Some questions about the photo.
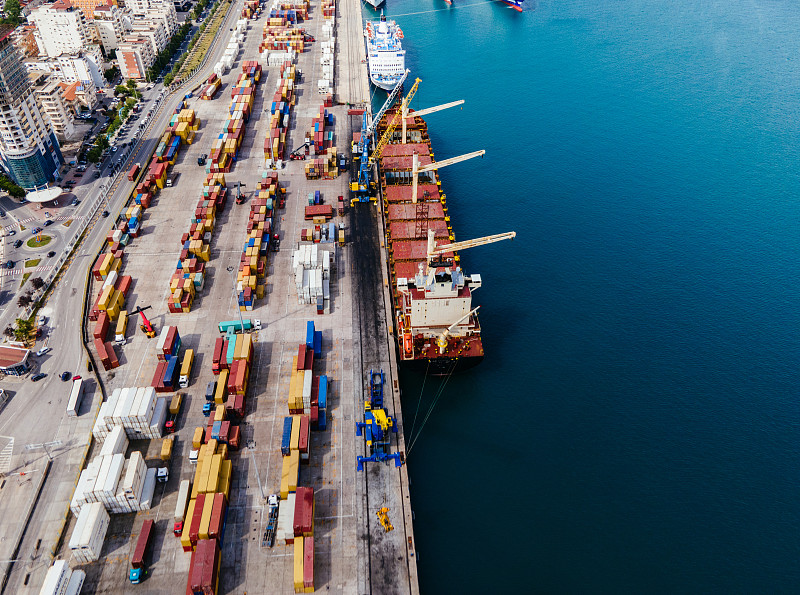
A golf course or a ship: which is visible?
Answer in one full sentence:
It is a ship that can be seen here.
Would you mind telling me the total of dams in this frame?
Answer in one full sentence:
I count no dams.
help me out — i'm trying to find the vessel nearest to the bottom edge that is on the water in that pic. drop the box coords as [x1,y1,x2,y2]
[377,98,521,370]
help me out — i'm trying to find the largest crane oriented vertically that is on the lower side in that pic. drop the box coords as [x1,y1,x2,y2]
[359,358,400,472]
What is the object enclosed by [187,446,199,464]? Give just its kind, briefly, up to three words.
vehicle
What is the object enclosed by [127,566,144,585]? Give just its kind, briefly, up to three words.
vehicle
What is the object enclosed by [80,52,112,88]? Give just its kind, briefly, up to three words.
building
